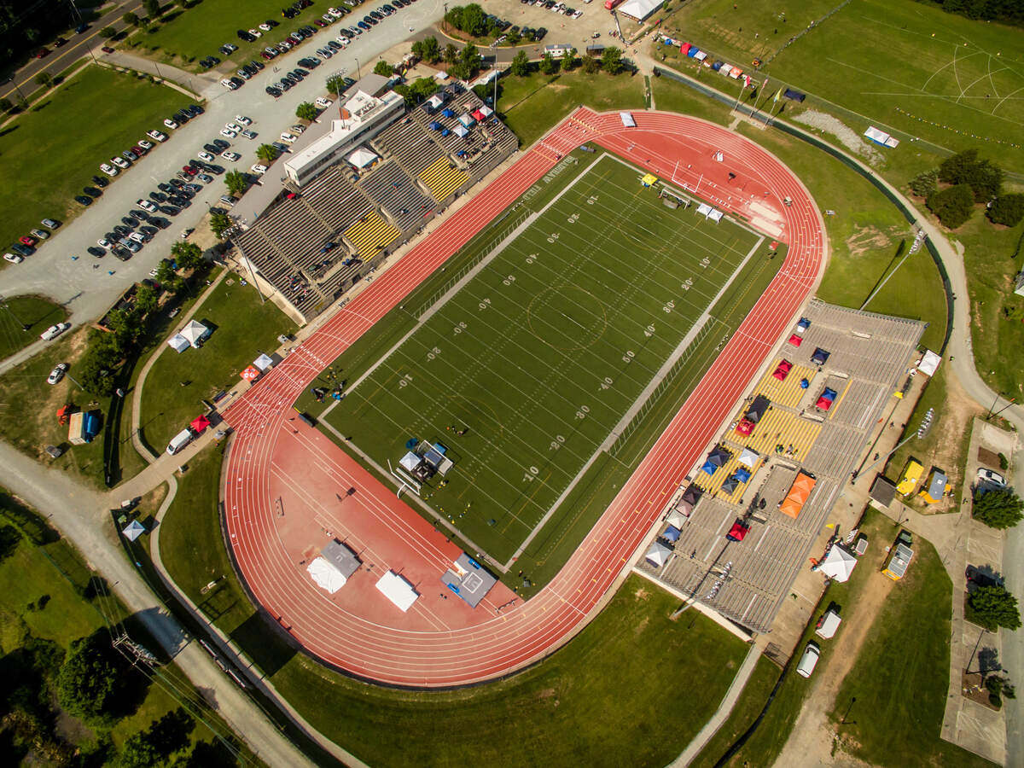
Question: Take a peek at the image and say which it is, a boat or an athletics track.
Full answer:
The one in the frame is an athletics track.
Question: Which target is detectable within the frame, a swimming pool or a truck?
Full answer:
Of the two, only a truck appears.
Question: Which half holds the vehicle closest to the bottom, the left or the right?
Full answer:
It is on the right.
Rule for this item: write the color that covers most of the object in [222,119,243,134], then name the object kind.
white vehicle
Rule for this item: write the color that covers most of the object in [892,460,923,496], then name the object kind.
yellow truck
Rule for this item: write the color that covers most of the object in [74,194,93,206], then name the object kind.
black vehicle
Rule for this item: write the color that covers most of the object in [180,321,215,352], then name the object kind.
white tent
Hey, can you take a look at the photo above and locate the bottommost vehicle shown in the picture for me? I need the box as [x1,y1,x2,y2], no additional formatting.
[795,641,822,678]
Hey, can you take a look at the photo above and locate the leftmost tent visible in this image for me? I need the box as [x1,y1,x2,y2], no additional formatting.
[119,517,155,547]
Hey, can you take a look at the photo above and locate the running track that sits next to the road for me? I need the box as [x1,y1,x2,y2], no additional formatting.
[222,112,823,688]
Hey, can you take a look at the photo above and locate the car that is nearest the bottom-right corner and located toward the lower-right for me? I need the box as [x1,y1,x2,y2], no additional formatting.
[969,567,999,585]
